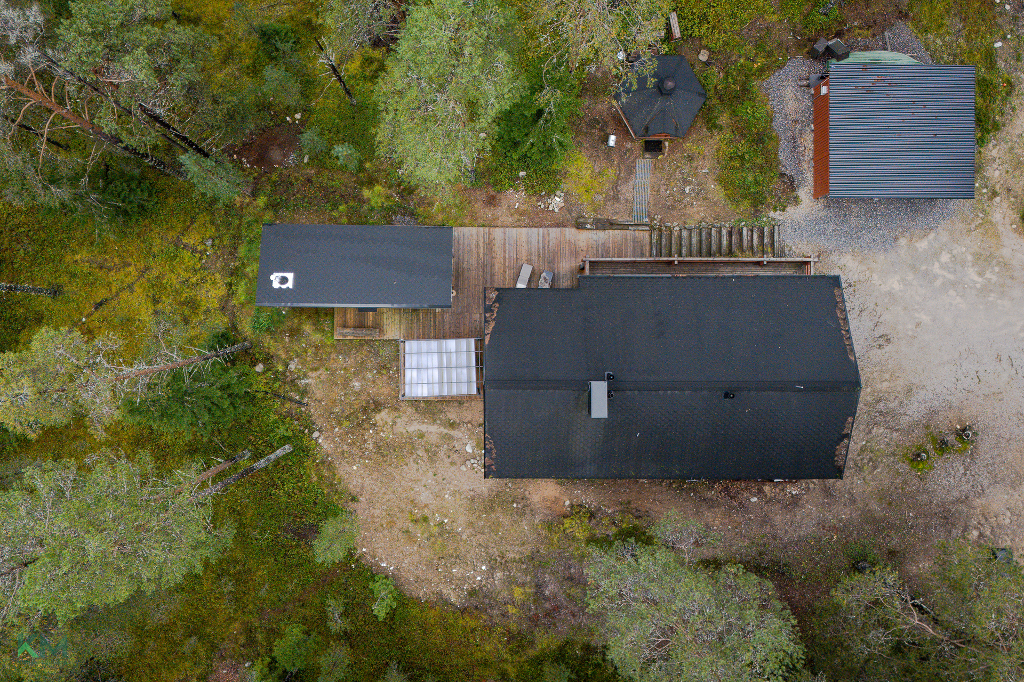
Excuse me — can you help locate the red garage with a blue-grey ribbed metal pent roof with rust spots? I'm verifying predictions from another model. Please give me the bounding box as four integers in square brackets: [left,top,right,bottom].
[813,62,976,200]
